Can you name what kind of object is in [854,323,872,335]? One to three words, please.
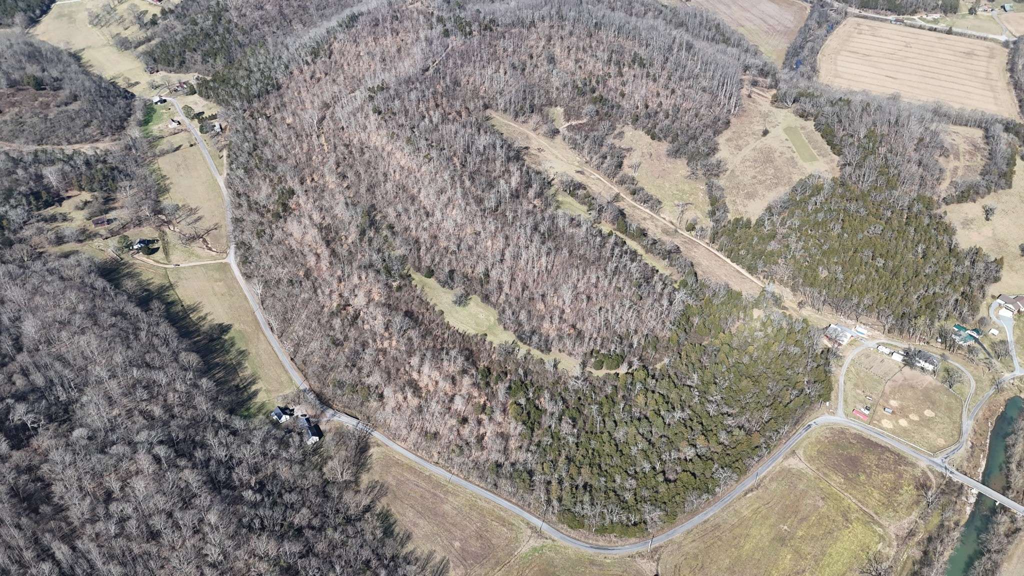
vehicle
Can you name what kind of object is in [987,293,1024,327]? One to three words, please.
house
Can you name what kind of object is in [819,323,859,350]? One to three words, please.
barn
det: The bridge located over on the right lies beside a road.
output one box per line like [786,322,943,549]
[944,465,1024,517]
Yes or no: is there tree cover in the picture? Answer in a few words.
Yes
